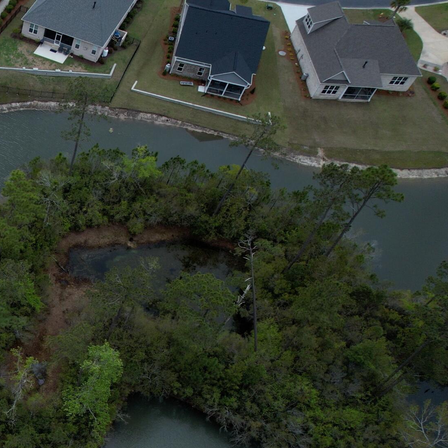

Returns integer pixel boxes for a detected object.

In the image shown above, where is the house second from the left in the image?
[170,0,276,101]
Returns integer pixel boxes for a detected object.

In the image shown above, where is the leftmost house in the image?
[20,0,143,63]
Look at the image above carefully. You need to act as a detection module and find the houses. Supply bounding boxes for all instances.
[291,0,423,102]
[20,0,143,63]
[170,0,276,101]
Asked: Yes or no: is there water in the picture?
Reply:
Yes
